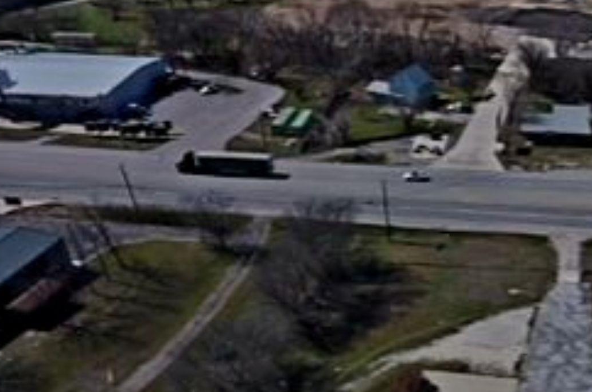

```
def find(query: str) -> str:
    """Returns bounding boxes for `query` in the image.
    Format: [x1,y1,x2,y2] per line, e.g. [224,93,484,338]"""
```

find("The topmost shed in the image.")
[46,32,96,47]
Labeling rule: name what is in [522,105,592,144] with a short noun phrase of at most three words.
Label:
house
